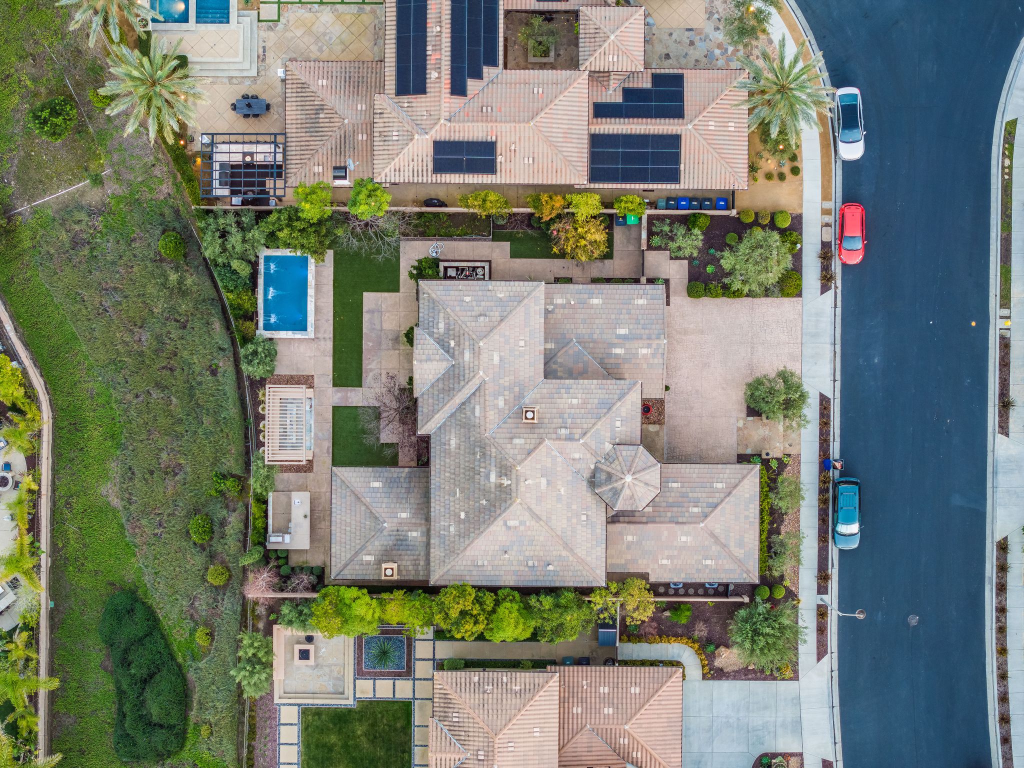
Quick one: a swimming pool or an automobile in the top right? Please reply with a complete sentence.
The one visible in the top right is an automobile.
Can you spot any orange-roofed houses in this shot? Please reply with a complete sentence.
No, no orange-roofed house can be seen from above.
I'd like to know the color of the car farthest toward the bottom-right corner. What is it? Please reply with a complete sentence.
In this view, the car farthest toward the bottom-right corner is blue.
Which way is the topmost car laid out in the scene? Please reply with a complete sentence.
The topmost car runs from top to bottom in the image.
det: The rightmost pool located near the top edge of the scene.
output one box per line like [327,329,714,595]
[195,0,238,30]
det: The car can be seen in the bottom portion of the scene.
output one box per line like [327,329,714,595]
[833,478,867,552]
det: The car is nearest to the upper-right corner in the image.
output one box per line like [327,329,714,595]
[835,86,870,160]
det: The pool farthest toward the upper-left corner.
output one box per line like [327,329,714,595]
[146,0,195,30]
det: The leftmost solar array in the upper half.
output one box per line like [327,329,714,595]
[396,0,428,95]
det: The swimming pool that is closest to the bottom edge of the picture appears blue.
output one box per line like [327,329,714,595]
[257,249,315,338]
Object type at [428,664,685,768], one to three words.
house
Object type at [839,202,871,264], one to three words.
car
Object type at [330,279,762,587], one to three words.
house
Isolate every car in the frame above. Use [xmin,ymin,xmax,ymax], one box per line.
[839,202,871,264]
[833,478,867,552]
[835,86,870,160]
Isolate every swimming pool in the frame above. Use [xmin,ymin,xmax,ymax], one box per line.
[195,0,238,30]
[146,0,195,30]
[257,249,315,338]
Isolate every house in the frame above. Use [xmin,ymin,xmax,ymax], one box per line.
[284,0,750,191]
[428,664,685,768]
[330,279,762,587]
